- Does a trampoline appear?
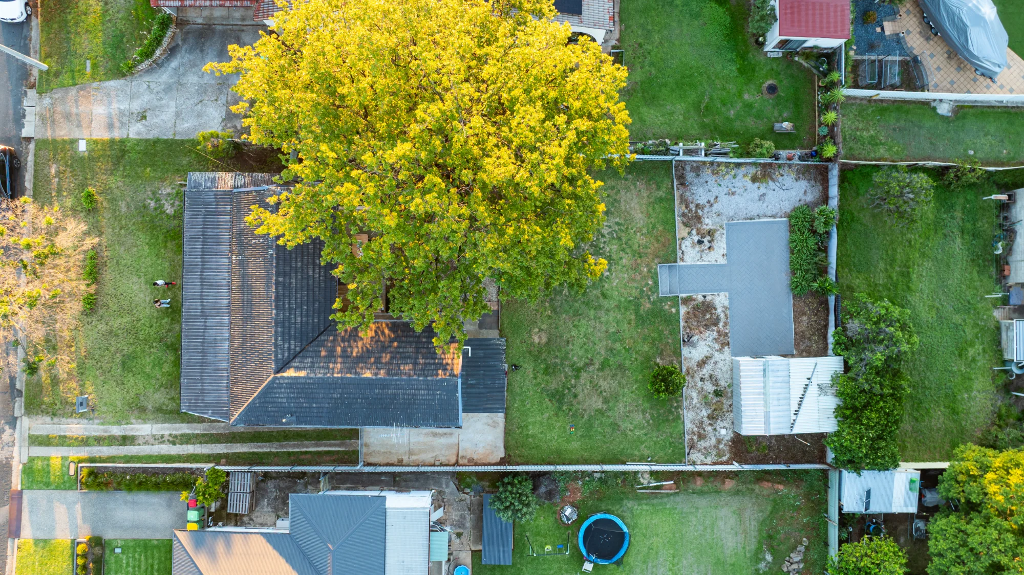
Yes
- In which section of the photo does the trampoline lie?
bottom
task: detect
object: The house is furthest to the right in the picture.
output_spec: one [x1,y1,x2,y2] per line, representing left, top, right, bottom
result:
[993,309,1024,362]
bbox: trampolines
[577,510,631,569]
